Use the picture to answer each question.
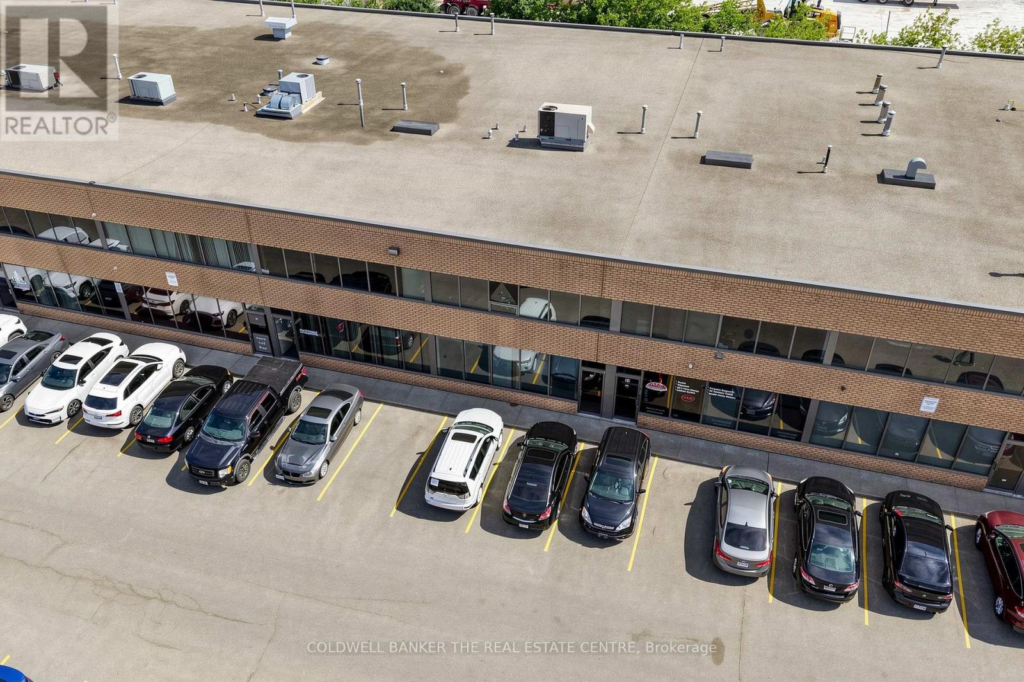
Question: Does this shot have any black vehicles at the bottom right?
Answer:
Yes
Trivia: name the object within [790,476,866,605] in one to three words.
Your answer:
car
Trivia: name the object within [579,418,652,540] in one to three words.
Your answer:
car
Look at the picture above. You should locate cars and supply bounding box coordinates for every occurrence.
[0,327,69,410]
[133,363,234,450]
[790,476,866,605]
[974,511,1024,641]
[0,664,28,682]
[23,332,130,423]
[579,418,652,540]
[708,461,783,576]
[502,422,579,532]
[878,490,958,616]
[80,345,185,432]
[422,410,505,517]
[0,313,36,343]
[271,384,364,486]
